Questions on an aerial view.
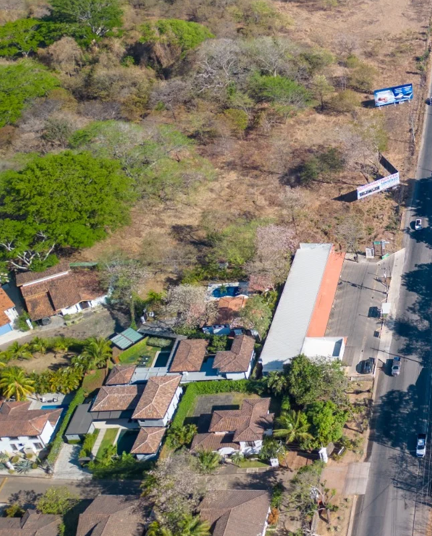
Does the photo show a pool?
Yes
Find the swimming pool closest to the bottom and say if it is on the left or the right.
left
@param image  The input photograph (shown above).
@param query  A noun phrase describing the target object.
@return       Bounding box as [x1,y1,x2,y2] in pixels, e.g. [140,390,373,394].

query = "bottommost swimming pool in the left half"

[115,429,141,455]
